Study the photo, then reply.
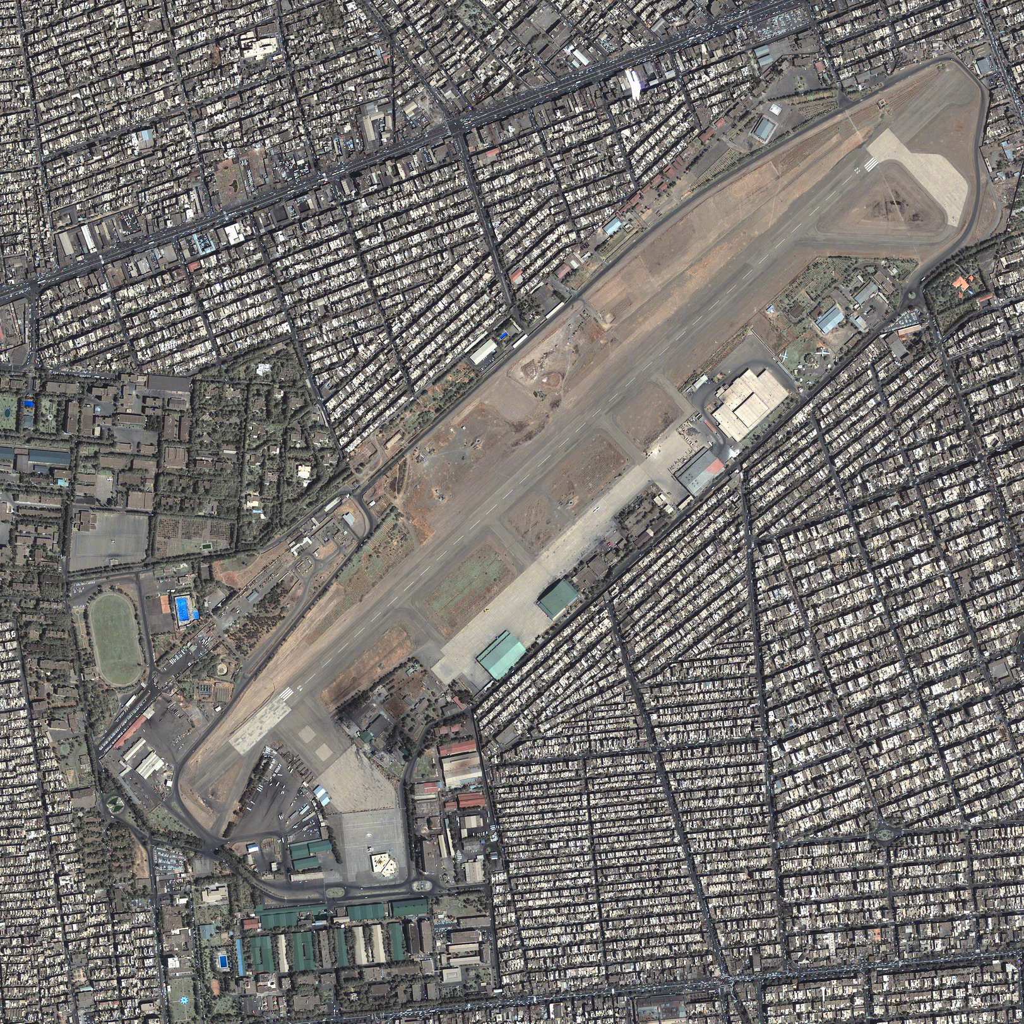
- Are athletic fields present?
Yes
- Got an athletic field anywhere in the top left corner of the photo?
No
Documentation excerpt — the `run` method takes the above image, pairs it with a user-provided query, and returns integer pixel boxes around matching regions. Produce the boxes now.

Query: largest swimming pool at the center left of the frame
[175,595,198,626]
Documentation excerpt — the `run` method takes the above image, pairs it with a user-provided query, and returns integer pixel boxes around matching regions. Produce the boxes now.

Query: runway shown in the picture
[275,152,876,708]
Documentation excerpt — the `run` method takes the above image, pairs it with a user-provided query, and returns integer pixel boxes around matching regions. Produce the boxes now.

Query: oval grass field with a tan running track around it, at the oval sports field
[86,589,147,689]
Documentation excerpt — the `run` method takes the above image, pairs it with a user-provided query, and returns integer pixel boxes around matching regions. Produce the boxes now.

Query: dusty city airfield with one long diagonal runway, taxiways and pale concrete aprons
[181,61,982,886]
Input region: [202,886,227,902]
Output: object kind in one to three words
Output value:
building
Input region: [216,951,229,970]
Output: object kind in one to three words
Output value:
swimming pool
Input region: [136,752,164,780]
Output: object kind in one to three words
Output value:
building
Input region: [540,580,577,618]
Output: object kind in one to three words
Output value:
hangar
